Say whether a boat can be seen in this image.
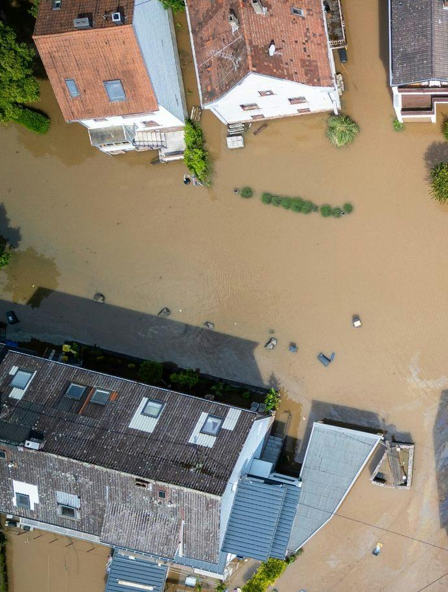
No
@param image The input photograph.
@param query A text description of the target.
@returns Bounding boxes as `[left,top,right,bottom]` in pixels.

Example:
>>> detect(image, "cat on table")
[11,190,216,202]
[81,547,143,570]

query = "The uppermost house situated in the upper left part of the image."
[32,0,188,138]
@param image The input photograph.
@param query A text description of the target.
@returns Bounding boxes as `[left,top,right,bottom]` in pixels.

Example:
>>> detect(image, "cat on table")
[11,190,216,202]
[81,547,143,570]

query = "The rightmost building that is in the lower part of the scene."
[289,423,383,550]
